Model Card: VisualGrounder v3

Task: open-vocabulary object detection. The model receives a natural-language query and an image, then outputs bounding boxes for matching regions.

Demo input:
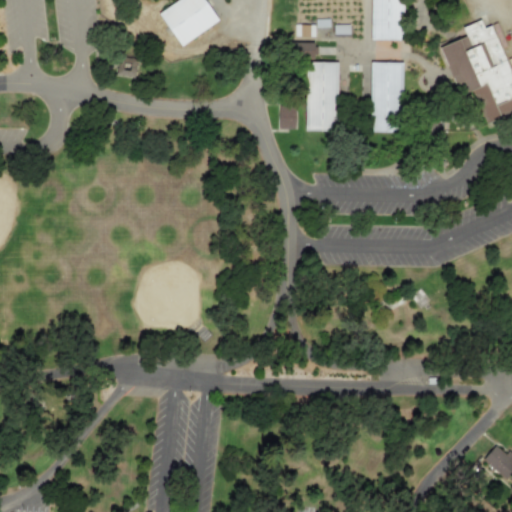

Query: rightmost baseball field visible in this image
[134,260,204,334]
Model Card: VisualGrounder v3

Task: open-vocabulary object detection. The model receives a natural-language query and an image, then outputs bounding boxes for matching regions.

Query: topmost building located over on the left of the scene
[160,0,220,46]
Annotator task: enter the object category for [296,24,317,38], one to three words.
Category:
shed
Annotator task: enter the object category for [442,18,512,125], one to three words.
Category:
building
